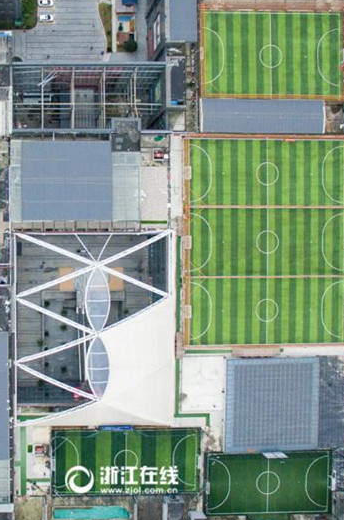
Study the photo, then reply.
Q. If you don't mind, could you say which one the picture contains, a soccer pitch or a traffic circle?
soccer pitch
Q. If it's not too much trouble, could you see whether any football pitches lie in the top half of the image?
Yes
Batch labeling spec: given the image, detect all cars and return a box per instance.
[38,0,54,7]
[38,15,54,22]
